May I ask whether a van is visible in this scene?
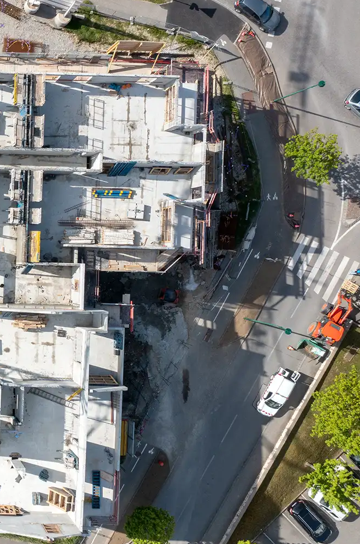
Yes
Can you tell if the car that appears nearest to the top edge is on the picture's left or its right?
right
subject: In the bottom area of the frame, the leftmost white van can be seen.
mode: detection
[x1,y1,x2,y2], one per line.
[256,366,306,418]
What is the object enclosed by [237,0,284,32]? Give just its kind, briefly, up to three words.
car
